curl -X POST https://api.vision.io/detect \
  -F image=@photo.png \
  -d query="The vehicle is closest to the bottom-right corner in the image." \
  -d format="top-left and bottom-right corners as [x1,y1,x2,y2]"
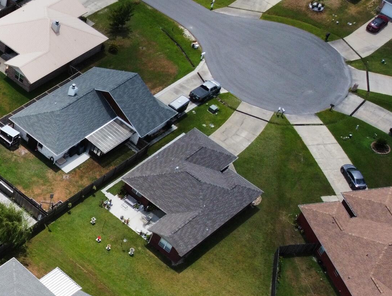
[345,159,375,190]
